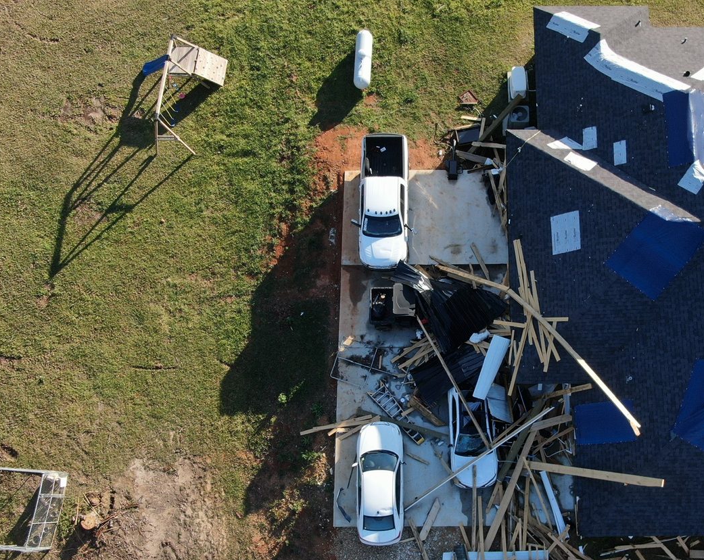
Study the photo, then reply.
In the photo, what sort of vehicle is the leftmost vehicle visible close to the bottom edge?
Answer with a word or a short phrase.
automobile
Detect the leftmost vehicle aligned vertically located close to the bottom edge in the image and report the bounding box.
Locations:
[351,421,410,550]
